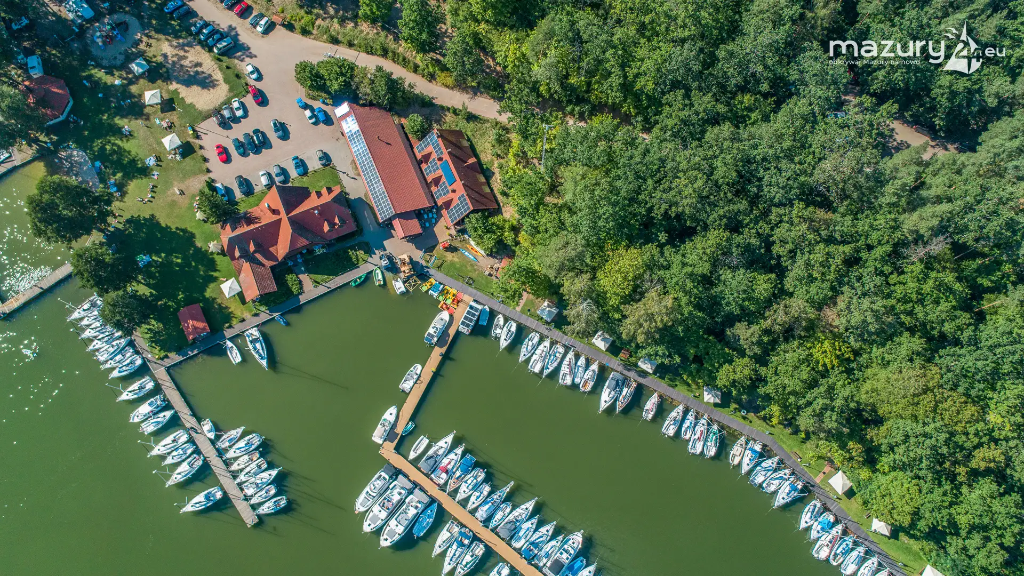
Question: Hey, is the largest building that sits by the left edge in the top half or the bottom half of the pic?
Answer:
top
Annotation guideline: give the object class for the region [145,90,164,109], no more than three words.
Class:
gazebo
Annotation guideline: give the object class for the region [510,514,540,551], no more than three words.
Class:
boat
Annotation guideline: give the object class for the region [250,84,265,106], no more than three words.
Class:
car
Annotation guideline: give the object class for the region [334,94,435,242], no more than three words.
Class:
barn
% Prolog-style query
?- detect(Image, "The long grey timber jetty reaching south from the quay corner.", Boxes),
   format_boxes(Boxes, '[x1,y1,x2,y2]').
[154,369,259,527]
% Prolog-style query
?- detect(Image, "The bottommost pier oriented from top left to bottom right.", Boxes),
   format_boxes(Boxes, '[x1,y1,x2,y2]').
[380,450,544,576]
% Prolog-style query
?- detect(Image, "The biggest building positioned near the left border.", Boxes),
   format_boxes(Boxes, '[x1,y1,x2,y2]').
[25,80,79,126]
